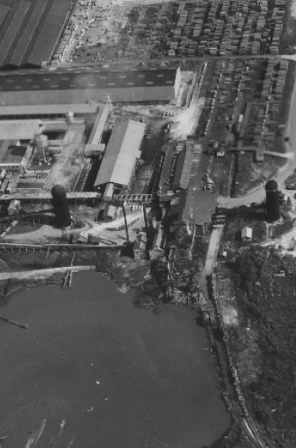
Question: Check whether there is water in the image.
Yes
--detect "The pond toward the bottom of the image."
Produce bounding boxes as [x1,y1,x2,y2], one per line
[0,274,233,448]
